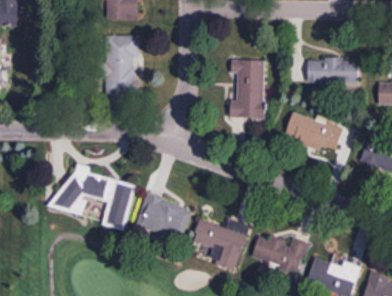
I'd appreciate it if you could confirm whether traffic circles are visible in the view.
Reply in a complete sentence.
No, there's no traffic circle here.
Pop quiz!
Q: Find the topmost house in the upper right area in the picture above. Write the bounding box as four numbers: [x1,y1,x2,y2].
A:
[307,58,358,83]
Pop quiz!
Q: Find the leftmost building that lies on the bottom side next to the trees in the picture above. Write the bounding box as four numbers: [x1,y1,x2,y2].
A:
[46,164,136,231]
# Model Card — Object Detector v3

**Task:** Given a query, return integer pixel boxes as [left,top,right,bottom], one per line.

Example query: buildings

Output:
[0,0,17,26]
[46,164,136,231]
[360,146,392,175]
[364,270,392,296]
[194,217,250,276]
[307,58,358,83]
[378,82,392,106]
[254,235,308,277]
[107,0,138,20]
[230,60,266,118]
[136,193,192,237]
[286,114,343,154]
[104,37,140,94]
[310,260,362,296]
